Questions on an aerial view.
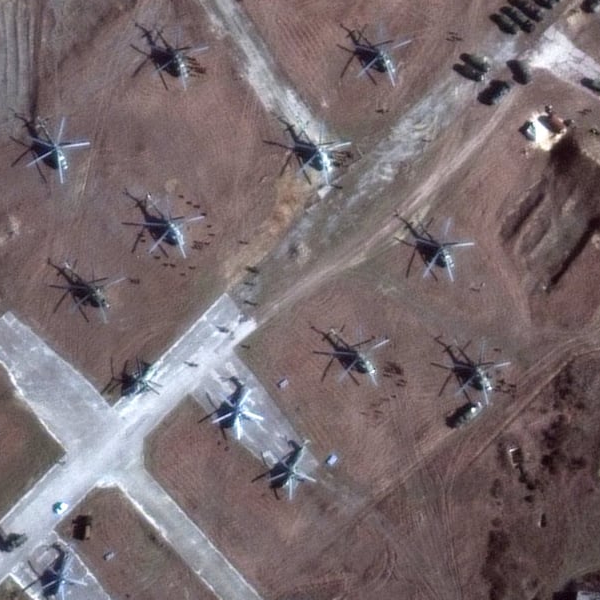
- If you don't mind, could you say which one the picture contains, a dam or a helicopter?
helicopter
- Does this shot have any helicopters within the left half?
Yes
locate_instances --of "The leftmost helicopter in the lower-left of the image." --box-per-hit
[36,541,90,600]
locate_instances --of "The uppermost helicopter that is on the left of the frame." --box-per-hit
[145,17,210,87]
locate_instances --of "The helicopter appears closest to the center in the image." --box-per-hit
[326,323,392,386]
